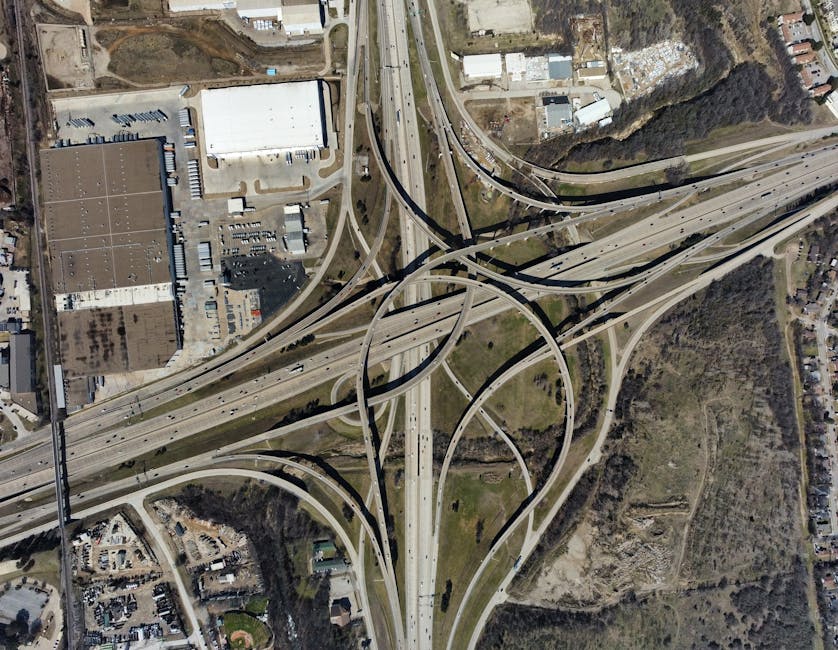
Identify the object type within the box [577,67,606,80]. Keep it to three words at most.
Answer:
shed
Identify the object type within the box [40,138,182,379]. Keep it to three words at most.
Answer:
warehouse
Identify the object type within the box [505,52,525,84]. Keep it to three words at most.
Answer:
building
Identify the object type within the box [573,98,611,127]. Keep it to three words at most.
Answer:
building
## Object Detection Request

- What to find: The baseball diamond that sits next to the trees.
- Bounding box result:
[221,612,273,650]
